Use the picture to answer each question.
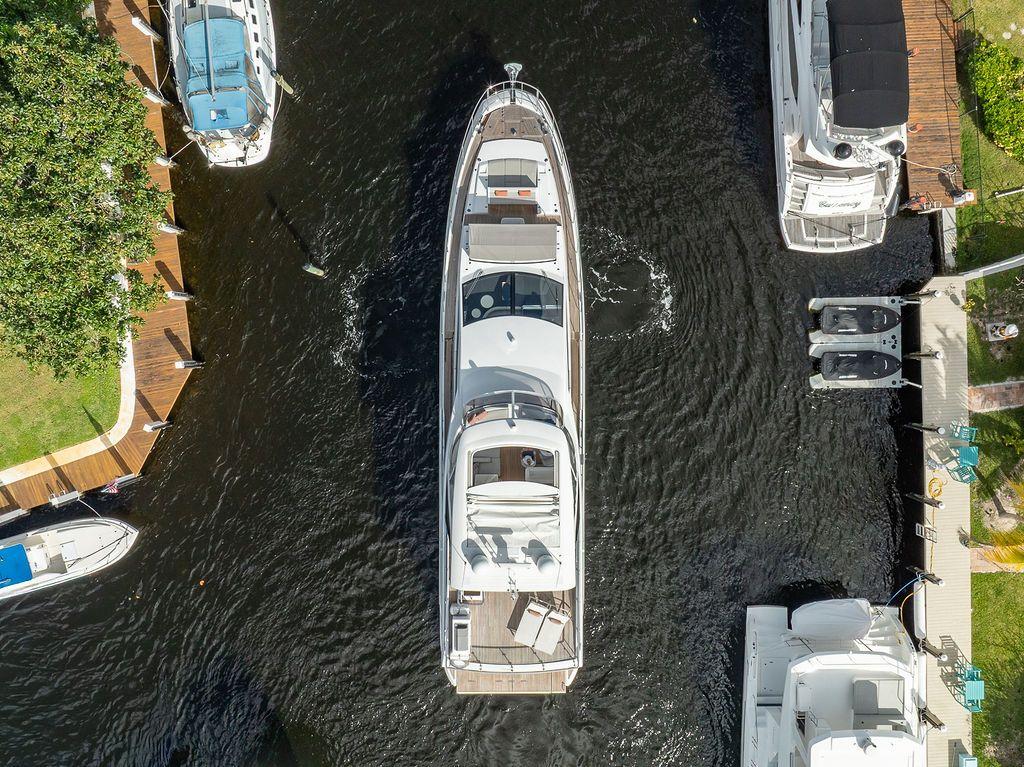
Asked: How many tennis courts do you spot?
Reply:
zero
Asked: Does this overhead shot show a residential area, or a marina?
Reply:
marina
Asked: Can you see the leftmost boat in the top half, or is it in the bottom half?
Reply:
bottom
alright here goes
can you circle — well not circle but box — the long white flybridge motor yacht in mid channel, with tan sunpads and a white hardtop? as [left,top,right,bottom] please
[439,64,586,694]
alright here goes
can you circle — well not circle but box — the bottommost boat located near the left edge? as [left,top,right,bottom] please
[0,515,141,599]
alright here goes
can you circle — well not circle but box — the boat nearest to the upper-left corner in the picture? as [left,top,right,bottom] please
[169,0,279,169]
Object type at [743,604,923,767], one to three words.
boat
